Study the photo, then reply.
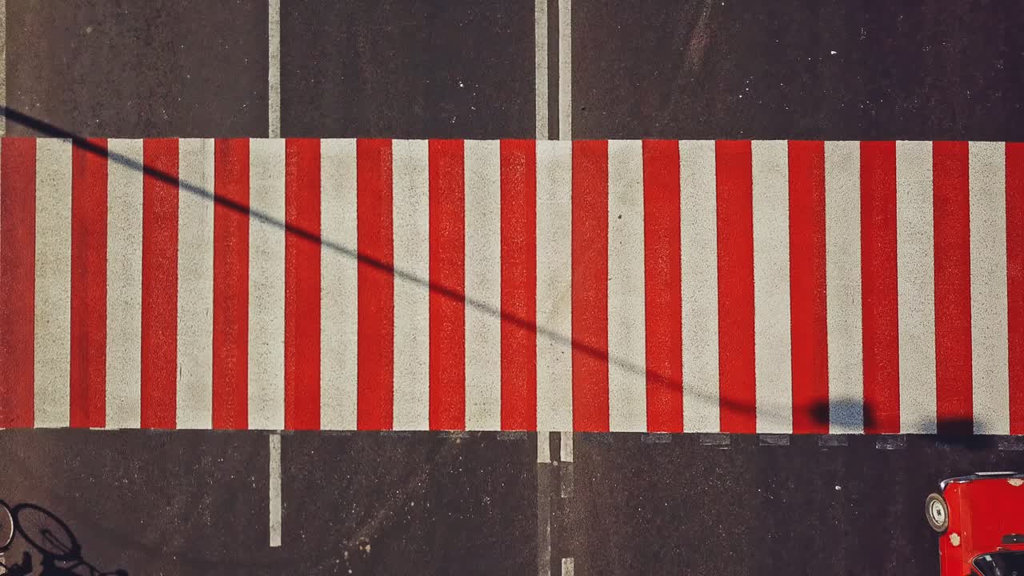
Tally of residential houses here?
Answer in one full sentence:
The picture shows no residential houses.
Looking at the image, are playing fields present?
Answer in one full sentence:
No, there isn't any playing field down there.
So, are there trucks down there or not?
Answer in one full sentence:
No, the photo shows no truck.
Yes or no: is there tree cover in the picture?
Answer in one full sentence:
No, there is no tree cover in the image.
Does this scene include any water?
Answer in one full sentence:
No, there is no water in the image.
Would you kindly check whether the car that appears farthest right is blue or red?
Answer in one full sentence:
The car that appears farthest right is red.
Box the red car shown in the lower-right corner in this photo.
[925,471,1024,576]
